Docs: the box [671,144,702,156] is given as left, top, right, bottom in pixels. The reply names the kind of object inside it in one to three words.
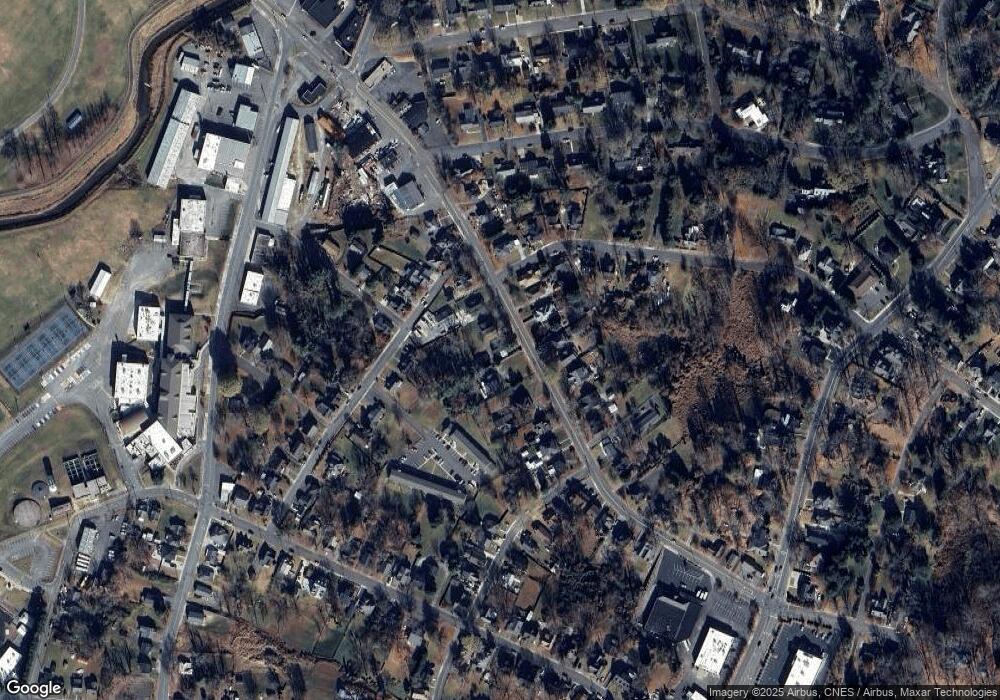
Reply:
house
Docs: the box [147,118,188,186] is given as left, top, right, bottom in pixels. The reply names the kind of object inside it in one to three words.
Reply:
building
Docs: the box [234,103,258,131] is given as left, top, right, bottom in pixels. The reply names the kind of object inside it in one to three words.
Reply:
building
